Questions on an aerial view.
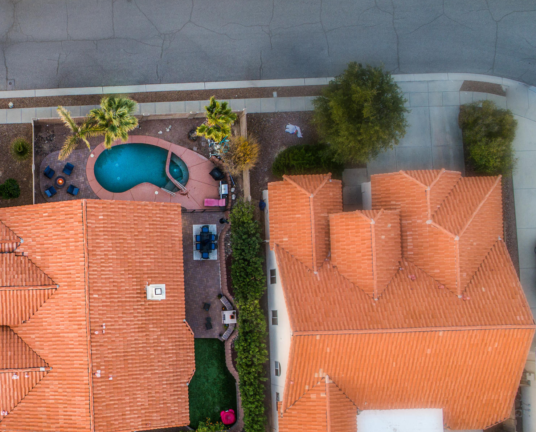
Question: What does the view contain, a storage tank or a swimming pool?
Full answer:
The one in the frame is a swimming pool.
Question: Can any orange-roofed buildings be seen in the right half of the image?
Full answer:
Yes, you'll find an orange-roofed building in the right half of the image.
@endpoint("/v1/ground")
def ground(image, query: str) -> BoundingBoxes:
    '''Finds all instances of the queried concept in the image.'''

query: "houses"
[262,167,536,432]
[0,198,198,432]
